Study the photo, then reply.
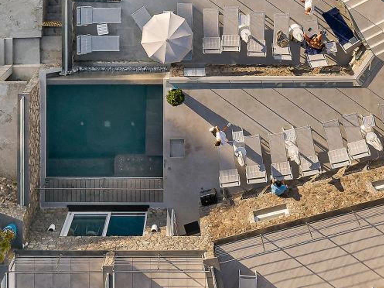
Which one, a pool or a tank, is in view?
pool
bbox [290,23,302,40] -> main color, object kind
white umbrella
